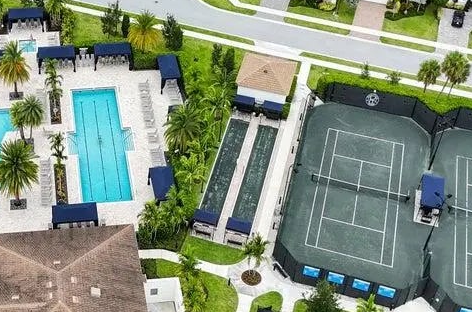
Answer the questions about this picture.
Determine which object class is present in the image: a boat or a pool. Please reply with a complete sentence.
The image shows a pool.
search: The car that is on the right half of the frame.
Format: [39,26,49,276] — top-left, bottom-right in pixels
[453,3,468,26]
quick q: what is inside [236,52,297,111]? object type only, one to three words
building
